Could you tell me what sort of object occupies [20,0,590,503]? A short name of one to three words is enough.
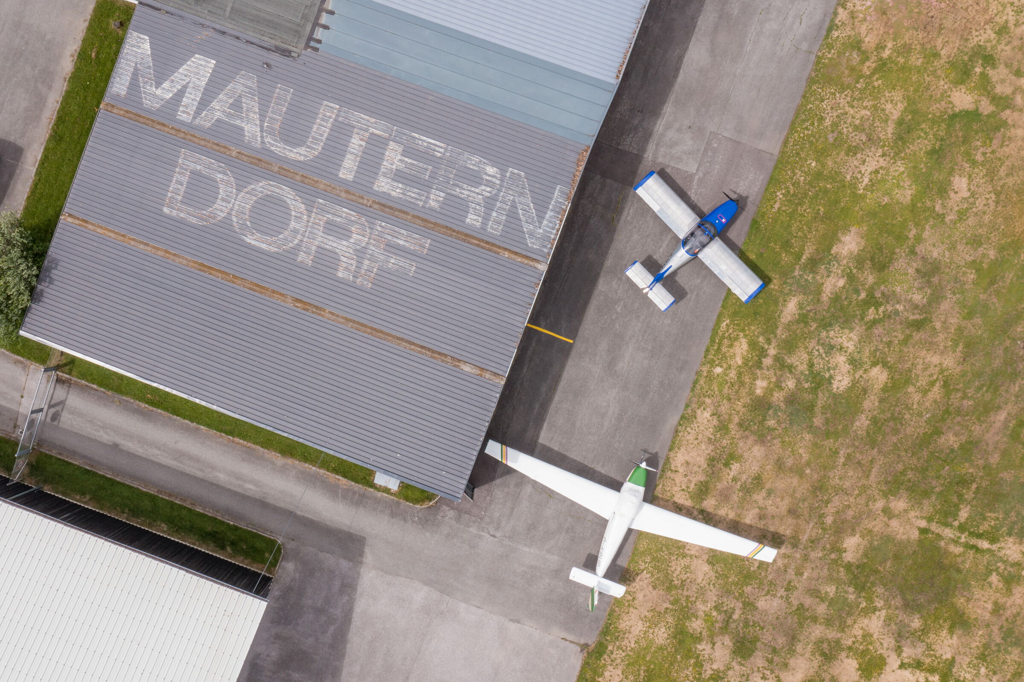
hangar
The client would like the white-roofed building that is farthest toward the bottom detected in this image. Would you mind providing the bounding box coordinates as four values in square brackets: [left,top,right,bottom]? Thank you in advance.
[0,472,274,682]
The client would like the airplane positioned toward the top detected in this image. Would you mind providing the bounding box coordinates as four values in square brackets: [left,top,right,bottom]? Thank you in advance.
[626,172,765,311]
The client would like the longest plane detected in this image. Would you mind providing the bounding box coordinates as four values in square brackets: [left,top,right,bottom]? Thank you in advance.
[485,441,775,613]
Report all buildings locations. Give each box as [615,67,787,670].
[0,472,274,682]
[20,0,590,503]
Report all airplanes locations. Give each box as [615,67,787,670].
[485,441,775,613]
[626,172,765,311]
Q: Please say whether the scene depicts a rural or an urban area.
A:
urban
